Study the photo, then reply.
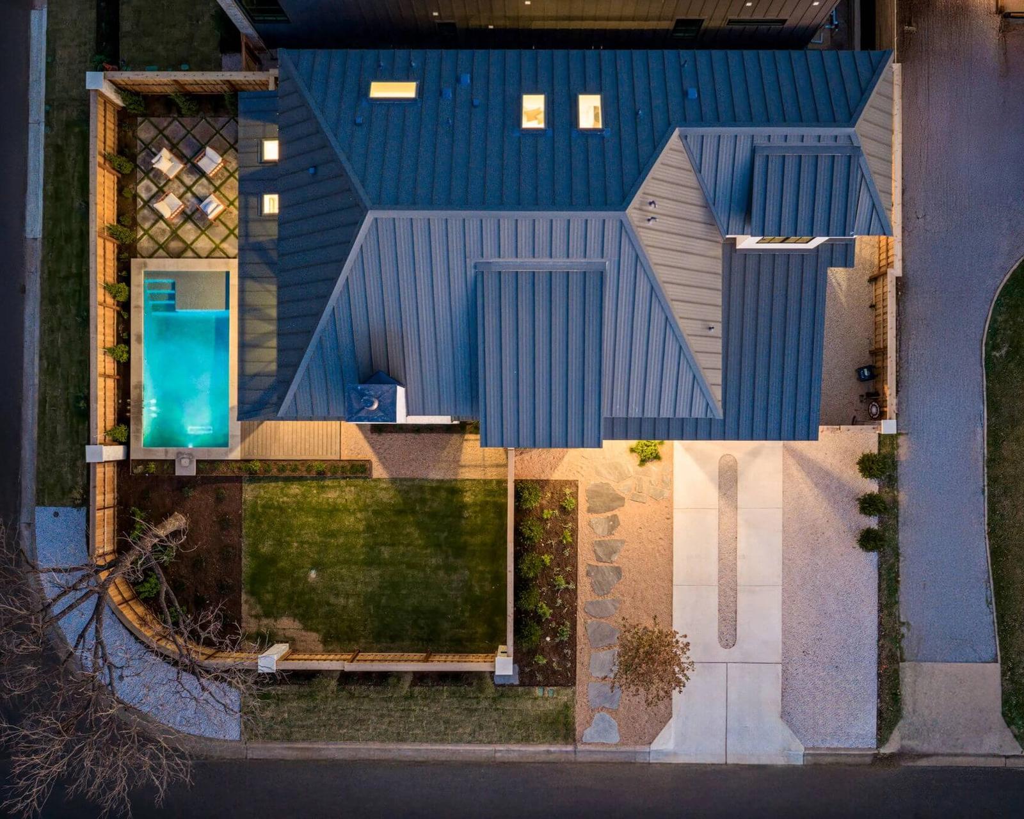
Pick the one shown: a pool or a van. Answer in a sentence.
This aerial view contains a pool.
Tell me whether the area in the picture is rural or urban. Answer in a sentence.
The area shown here is urban.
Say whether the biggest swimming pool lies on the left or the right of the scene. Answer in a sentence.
You can find the biggest swimming pool on the left side of the picture.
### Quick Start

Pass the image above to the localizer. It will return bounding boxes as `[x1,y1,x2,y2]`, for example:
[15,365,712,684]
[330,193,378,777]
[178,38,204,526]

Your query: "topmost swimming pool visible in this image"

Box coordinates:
[131,258,239,459]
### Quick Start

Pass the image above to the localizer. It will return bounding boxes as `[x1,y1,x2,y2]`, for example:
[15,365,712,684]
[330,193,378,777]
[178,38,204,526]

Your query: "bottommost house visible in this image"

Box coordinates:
[237,47,895,448]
